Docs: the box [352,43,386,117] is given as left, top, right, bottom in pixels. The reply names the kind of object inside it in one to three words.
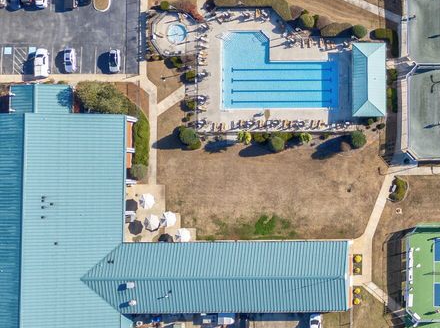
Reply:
building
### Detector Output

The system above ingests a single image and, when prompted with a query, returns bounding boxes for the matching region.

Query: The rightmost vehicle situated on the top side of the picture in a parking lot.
[108,49,122,73]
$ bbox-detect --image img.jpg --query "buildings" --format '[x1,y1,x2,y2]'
[0,83,355,328]
[352,43,386,117]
